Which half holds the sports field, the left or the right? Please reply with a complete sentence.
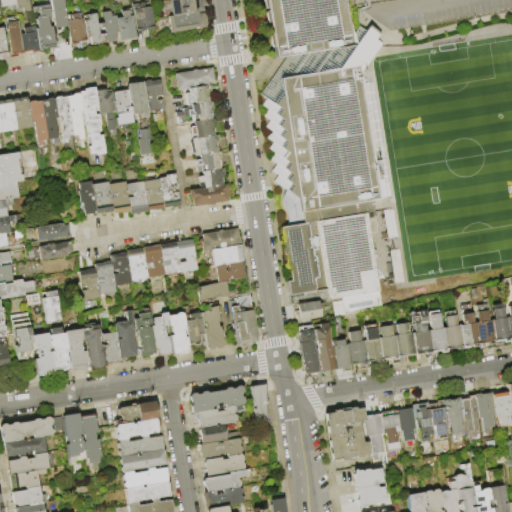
It is on the right.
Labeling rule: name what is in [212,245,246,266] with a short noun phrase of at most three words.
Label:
building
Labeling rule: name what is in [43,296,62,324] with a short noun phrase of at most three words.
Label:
house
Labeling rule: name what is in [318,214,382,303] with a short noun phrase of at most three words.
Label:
building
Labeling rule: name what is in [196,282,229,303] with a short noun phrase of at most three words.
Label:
house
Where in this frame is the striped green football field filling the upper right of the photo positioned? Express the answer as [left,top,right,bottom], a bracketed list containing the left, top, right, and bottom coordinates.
[375,34,512,282]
